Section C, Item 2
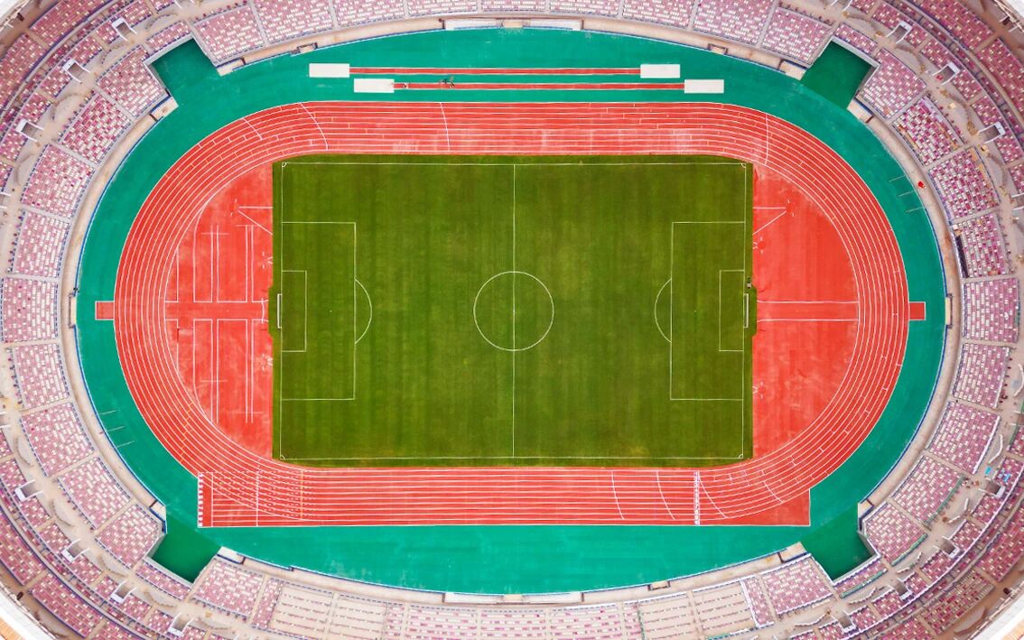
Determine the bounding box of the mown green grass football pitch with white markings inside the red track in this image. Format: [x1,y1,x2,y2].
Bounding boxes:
[269,154,758,467]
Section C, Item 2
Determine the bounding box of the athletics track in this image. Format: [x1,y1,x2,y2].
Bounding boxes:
[115,101,909,527]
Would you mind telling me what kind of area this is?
sports ground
